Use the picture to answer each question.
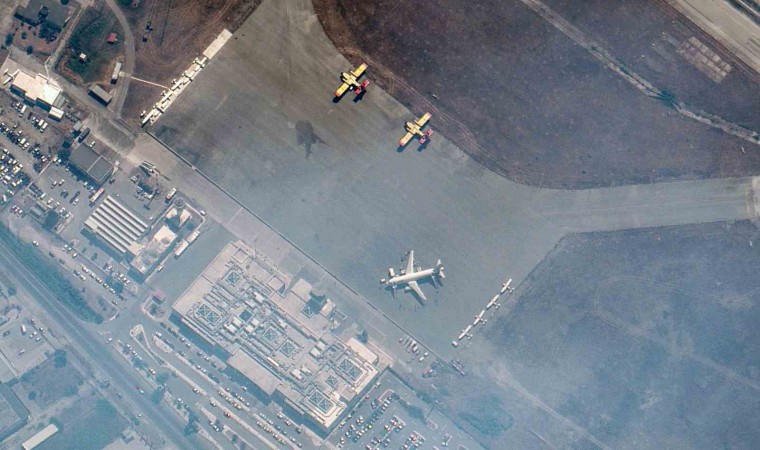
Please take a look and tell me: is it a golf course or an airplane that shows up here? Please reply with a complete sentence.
There is an airplane in the scene.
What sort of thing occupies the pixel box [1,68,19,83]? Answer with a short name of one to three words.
airplane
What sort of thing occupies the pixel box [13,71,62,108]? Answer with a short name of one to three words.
hangar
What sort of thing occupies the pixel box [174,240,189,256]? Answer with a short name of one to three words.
vehicle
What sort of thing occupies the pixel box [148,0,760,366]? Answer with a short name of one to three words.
airport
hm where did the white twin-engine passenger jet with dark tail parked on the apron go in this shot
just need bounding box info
[387,250,443,299]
